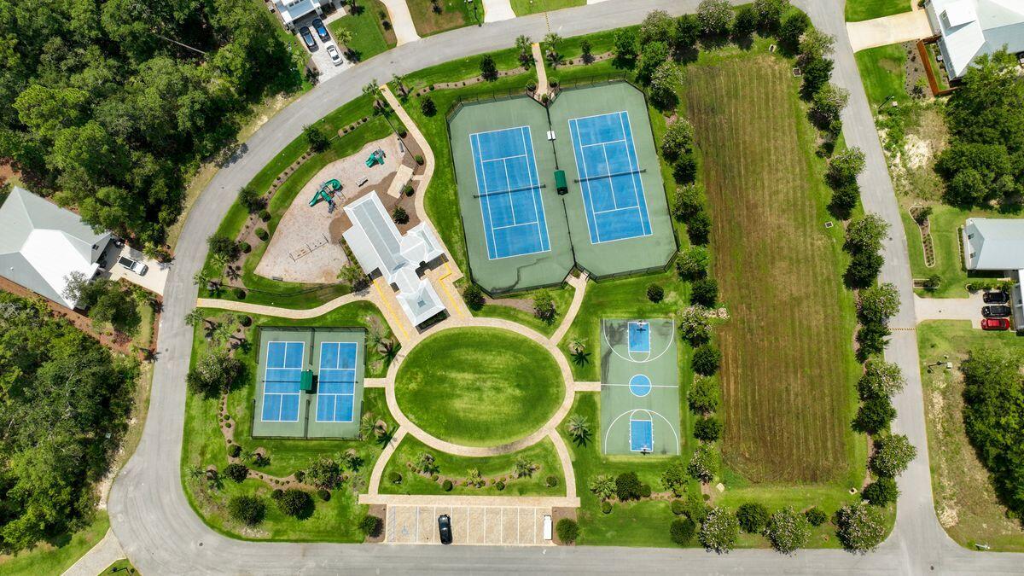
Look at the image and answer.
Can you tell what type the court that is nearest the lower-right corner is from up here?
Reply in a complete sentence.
It looks like the court that is nearest the lower-right corner is a basketball court.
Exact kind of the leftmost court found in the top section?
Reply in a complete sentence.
It looks like the leftmost court found in the top section is a tennis court.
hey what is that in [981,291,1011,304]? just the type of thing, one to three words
vehicle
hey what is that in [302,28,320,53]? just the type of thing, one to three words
car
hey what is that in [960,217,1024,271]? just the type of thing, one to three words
house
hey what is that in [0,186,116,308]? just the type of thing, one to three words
house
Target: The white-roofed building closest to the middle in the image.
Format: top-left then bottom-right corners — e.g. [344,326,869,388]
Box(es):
[342,191,446,327]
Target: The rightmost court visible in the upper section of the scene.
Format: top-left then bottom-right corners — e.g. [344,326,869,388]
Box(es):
[547,82,678,280]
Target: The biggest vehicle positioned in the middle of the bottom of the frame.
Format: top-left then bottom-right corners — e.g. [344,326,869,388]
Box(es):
[437,513,452,546]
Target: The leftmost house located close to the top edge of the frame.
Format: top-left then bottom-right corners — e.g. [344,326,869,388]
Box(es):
[272,0,330,31]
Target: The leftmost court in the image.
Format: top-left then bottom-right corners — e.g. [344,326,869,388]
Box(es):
[253,329,312,438]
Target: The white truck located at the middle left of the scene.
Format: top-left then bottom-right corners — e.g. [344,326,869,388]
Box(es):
[116,254,152,276]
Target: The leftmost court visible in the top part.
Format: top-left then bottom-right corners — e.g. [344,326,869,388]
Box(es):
[449,97,576,296]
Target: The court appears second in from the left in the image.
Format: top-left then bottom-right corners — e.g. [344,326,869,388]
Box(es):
[306,329,365,439]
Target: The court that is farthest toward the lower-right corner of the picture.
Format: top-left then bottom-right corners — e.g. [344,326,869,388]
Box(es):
[601,319,681,455]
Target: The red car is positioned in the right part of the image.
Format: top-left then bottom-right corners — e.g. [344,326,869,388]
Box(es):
[981,318,1008,330]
